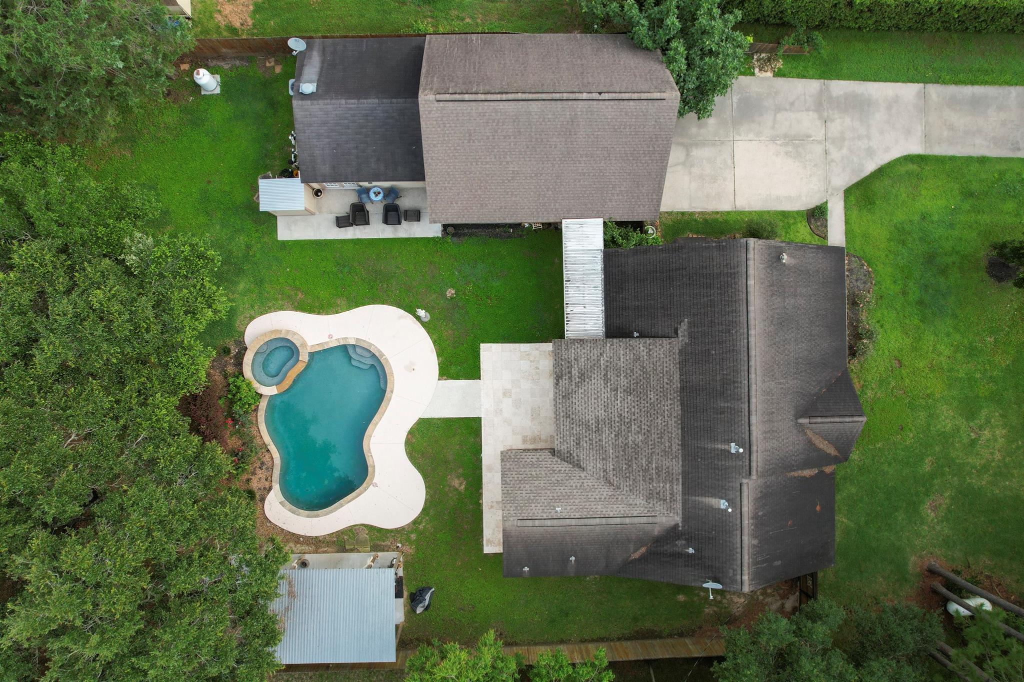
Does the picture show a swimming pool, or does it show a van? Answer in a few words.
swimming pool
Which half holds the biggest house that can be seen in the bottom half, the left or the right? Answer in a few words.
right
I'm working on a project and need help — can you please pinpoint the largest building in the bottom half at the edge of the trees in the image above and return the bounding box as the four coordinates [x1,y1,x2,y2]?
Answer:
[501,239,867,593]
